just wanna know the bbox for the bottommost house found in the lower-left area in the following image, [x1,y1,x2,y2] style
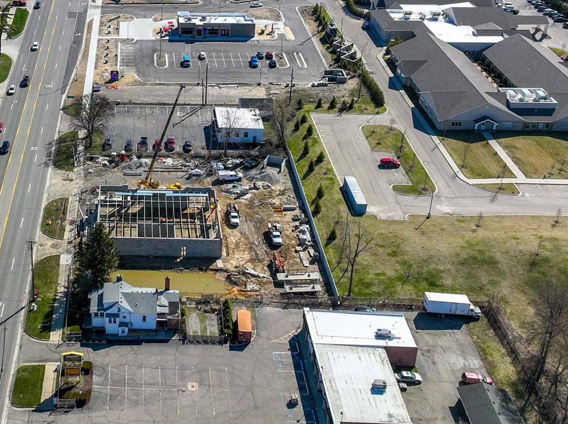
[84,274,181,348]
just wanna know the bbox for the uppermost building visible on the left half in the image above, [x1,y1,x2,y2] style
[176,11,257,39]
